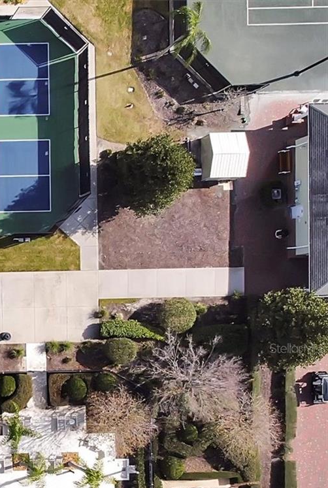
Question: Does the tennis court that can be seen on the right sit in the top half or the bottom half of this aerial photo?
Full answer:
You can find the tennis court that can be seen on the right in the top half.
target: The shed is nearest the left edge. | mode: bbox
[200,132,249,177]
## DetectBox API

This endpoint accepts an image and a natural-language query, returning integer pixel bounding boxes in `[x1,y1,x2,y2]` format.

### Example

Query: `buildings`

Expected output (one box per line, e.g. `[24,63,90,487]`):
[289,102,328,296]
[200,132,249,177]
